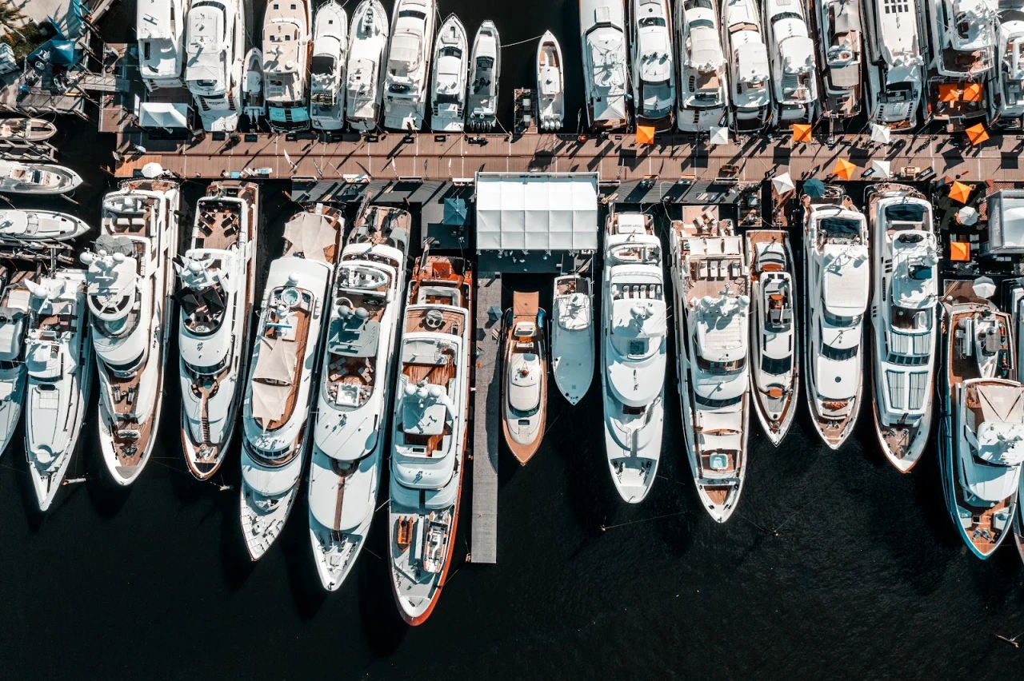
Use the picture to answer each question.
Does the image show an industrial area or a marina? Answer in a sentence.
The area seen from above is a marina.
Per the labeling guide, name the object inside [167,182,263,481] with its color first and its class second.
white boat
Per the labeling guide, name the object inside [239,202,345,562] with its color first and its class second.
white boat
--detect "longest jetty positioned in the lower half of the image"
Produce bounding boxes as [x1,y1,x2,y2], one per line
[471,273,502,564]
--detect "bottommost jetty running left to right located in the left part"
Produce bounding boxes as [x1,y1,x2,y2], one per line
[292,178,477,250]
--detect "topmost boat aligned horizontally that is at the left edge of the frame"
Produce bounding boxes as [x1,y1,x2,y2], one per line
[0,119,58,143]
